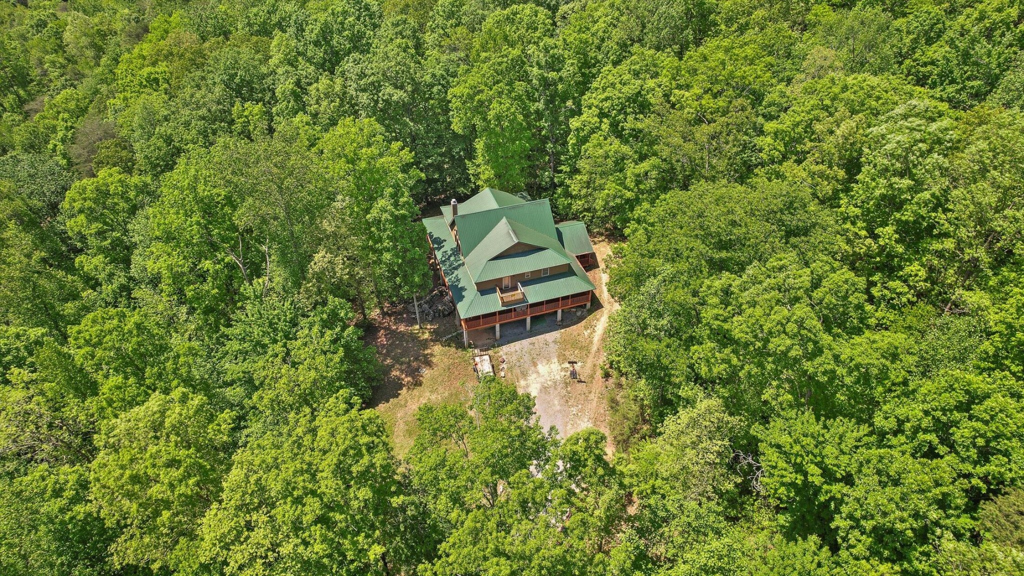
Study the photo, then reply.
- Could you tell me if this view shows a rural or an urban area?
rural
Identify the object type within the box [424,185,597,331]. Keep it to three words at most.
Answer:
house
